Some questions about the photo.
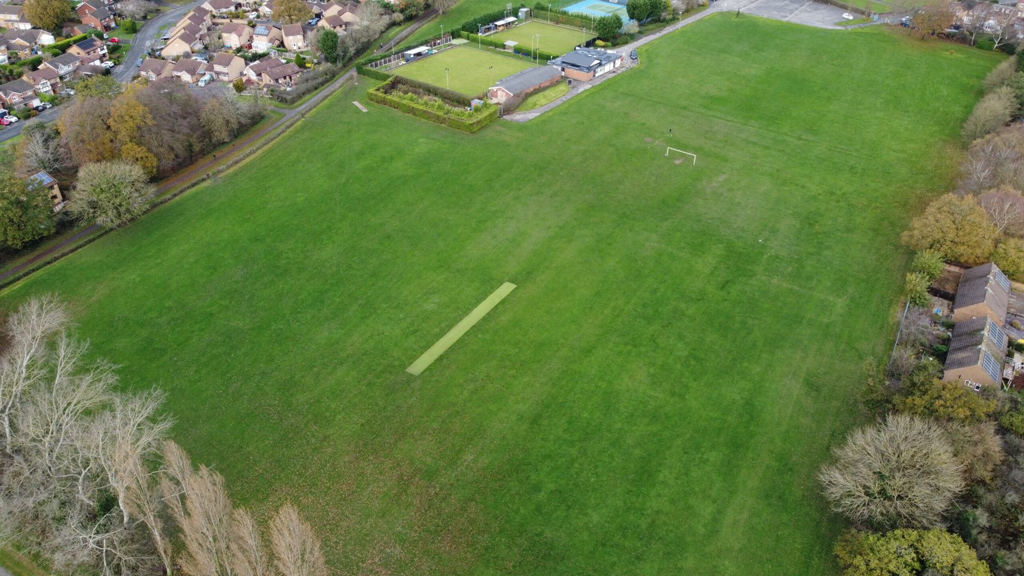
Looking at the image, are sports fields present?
Yes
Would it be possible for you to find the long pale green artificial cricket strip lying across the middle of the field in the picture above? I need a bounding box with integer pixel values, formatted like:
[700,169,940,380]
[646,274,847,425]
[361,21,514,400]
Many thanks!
[406,282,517,376]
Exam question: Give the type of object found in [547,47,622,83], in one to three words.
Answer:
building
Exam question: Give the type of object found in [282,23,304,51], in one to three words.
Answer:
house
